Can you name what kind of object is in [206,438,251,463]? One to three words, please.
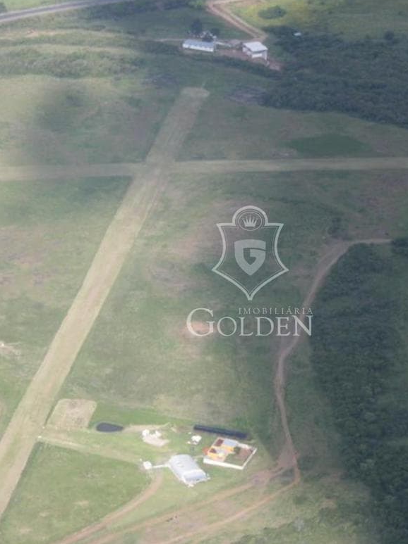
house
